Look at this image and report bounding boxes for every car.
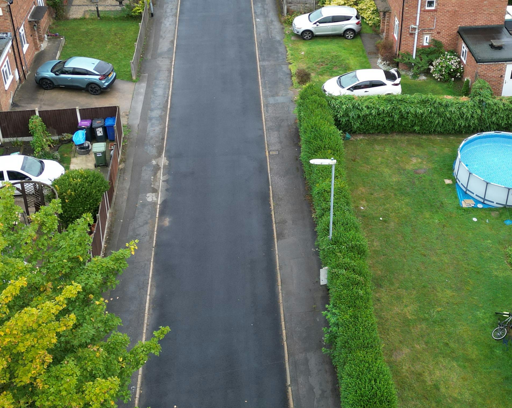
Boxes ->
[320,64,405,97]
[35,52,120,93]
[288,4,363,39]
[0,152,64,195]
